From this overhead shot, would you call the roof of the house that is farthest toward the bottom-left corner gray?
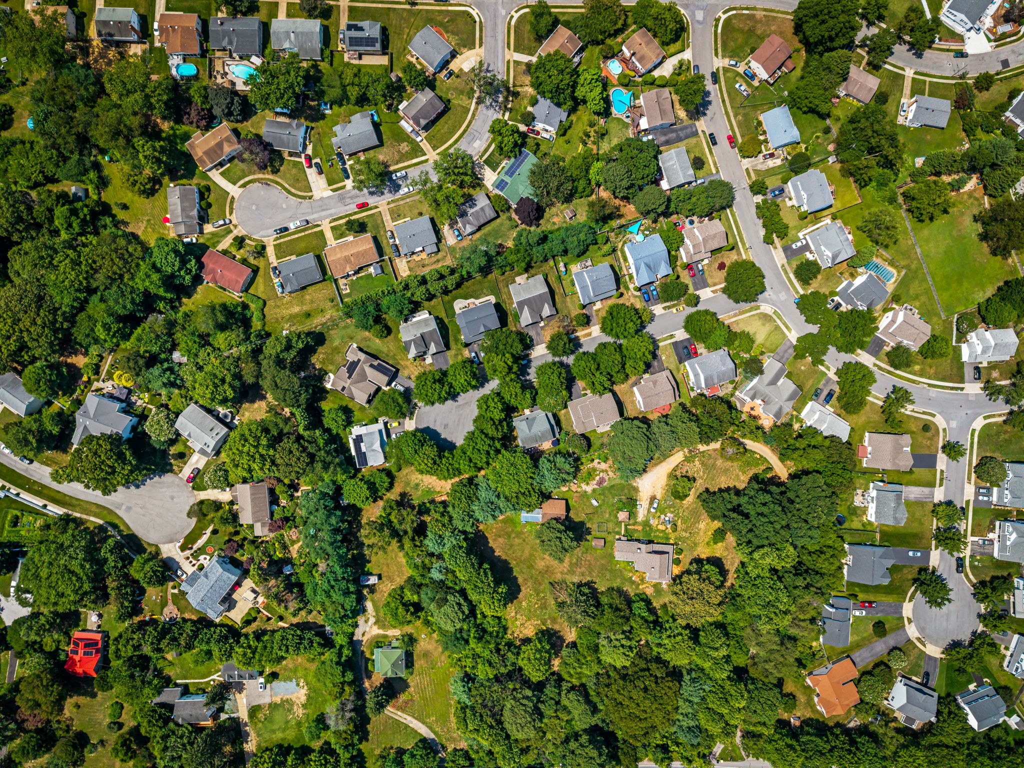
No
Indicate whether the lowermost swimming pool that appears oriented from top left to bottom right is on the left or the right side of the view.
right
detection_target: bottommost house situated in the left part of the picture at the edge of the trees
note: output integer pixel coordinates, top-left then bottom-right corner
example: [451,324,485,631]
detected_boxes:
[161,685,213,724]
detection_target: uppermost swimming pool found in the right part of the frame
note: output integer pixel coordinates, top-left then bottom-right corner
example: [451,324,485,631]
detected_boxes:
[608,57,623,74]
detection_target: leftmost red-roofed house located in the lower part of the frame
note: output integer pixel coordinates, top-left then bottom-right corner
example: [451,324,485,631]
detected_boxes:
[65,630,107,680]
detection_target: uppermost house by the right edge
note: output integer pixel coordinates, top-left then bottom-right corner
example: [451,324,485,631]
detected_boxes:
[937,0,1003,38]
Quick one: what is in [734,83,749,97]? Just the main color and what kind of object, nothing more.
white vehicle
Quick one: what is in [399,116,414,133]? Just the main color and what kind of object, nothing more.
white camper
